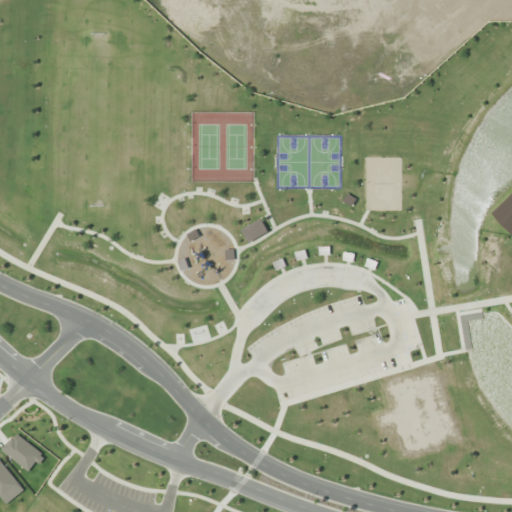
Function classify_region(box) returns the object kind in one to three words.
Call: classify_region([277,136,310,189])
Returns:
basketball court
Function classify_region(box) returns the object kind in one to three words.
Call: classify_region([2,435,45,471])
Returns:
house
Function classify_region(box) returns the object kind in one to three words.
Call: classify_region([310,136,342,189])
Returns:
basketball court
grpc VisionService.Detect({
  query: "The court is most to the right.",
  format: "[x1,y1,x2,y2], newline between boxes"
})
[366,157,402,210]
